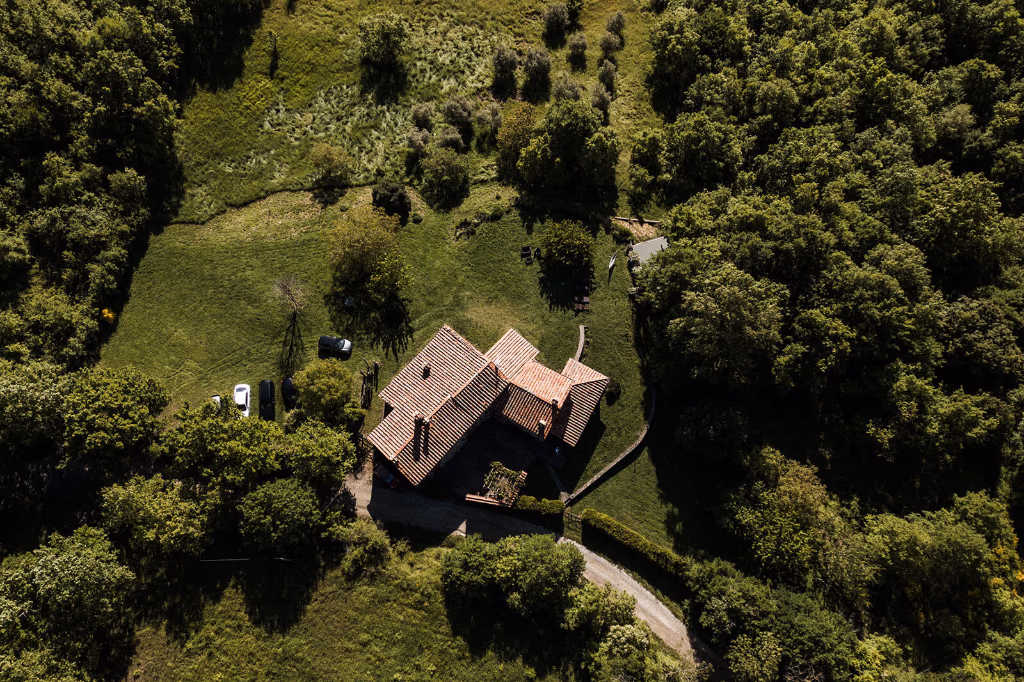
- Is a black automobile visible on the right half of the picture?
No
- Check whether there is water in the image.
No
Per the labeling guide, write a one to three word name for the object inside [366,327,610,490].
house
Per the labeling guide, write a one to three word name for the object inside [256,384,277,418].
car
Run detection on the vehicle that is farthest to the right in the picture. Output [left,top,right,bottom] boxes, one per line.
[369,463,401,495]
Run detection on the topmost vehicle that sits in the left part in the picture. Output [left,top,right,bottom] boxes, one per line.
[317,338,353,359]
